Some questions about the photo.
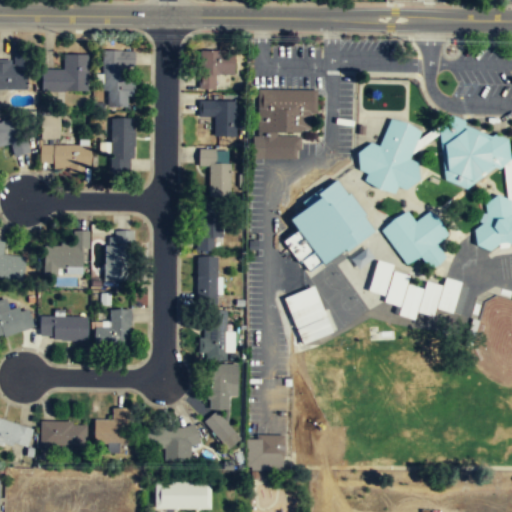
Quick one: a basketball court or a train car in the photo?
basketball court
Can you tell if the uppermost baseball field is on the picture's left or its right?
right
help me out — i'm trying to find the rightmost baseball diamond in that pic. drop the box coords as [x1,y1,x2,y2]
[473,294,512,388]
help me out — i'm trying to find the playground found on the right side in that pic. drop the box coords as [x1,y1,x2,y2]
[361,82,408,112]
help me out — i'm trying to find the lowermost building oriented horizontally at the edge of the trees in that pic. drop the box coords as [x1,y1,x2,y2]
[156,483,212,510]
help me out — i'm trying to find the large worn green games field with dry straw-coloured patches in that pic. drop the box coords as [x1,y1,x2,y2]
[295,317,512,466]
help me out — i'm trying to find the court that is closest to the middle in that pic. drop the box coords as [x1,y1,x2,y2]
[318,266,368,328]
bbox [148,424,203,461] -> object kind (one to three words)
house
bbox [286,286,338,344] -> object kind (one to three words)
building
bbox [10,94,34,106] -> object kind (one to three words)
swimming pool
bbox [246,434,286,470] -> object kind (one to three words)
building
